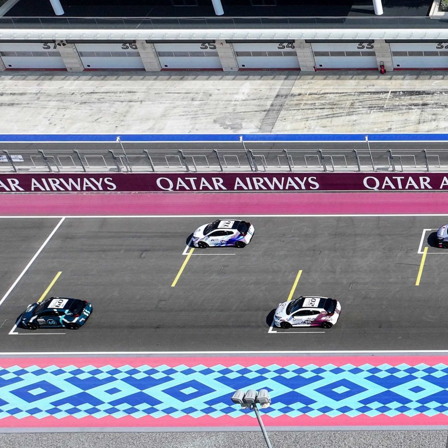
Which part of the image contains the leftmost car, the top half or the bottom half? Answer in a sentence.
The leftmost car is in the bottom half of the image.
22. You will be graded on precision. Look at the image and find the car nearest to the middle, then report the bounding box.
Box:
[191,218,254,249]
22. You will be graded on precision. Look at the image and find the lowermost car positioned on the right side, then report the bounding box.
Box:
[272,296,341,330]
